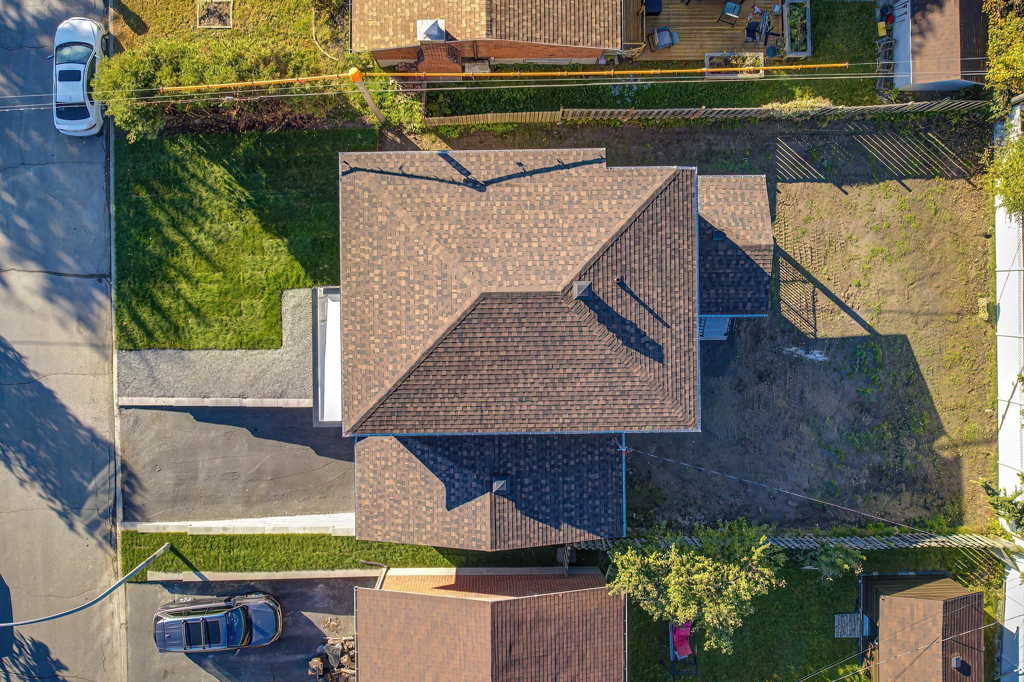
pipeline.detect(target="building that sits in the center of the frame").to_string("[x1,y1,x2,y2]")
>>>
[312,146,774,548]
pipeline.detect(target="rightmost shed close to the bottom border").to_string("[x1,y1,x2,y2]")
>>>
[852,572,983,682]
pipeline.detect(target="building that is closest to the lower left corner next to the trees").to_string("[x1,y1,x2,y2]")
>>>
[353,559,628,682]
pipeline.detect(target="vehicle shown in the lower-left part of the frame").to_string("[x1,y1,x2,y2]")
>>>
[155,593,287,657]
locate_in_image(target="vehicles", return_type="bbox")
[44,18,106,138]
[155,593,287,657]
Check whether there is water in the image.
No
